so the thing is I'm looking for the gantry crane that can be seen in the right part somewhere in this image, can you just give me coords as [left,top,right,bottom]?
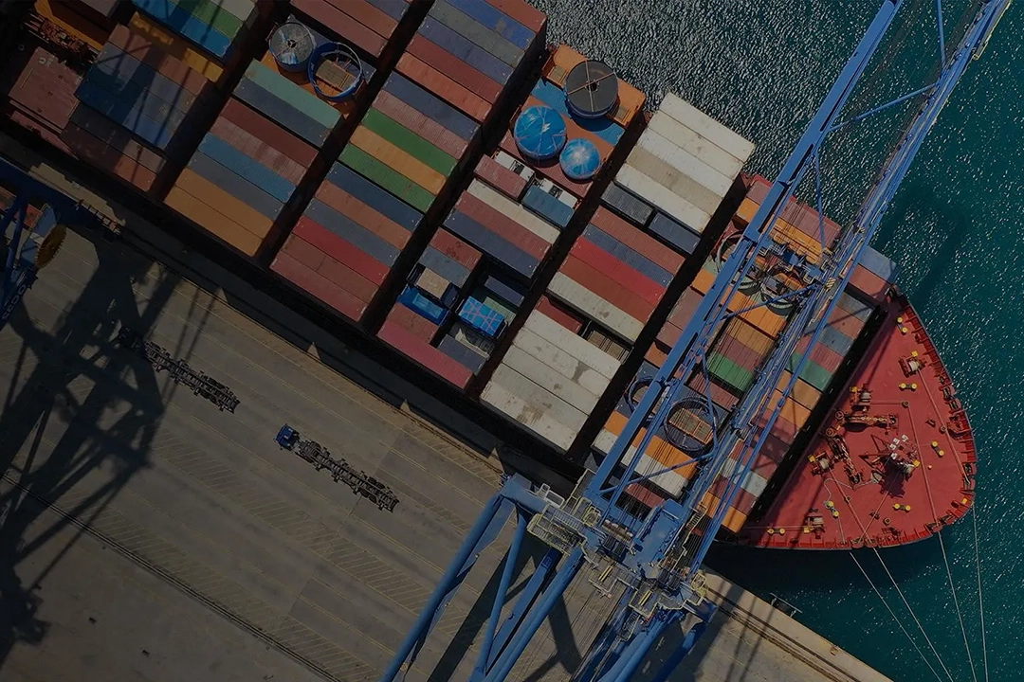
[381,0,1017,682]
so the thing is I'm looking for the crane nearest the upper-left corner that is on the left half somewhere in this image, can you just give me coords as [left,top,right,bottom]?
[0,151,157,329]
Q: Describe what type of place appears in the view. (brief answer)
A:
port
